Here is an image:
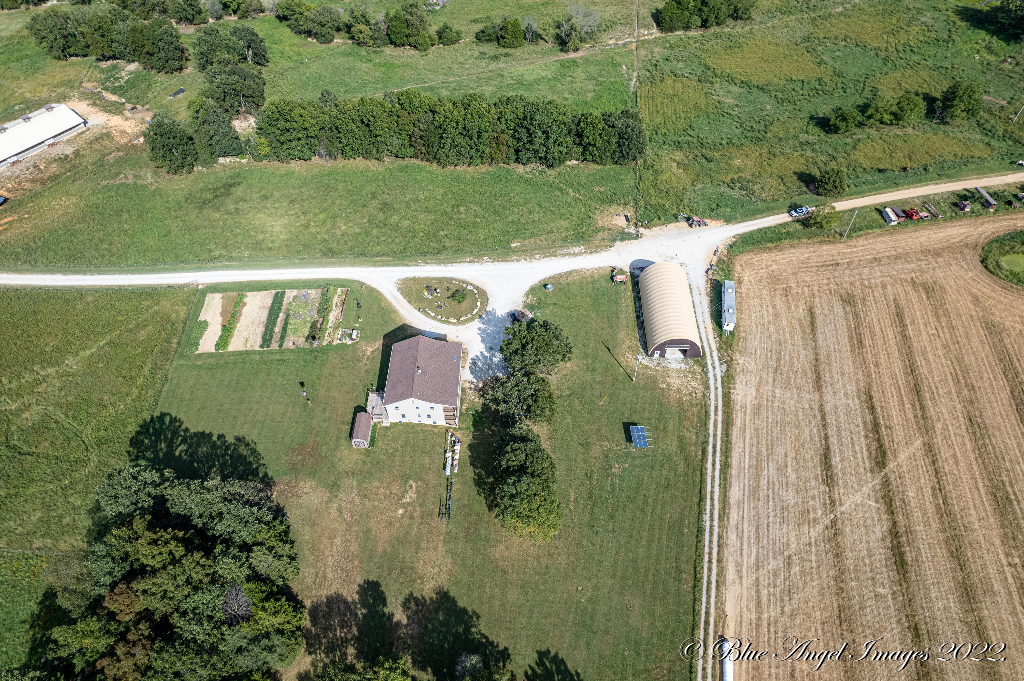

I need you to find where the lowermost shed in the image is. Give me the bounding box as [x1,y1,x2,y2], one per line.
[350,412,372,448]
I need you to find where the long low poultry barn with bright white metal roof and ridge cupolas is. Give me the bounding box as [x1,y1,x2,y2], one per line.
[0,99,88,171]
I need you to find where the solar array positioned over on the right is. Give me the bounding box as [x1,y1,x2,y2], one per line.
[630,426,648,450]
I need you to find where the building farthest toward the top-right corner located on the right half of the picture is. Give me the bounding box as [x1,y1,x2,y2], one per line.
[639,260,703,360]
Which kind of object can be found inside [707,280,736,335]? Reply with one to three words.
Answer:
trailer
